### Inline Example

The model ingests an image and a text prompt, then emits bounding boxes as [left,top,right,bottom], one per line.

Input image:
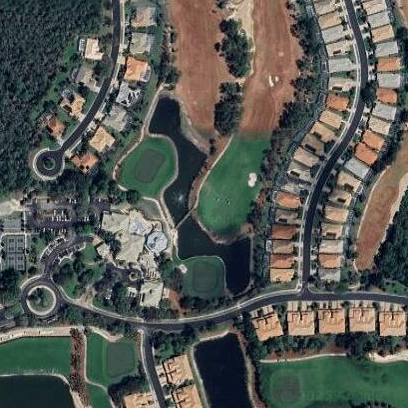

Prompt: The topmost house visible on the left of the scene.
[135,8,157,25]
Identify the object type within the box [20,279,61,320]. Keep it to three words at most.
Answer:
roundabout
